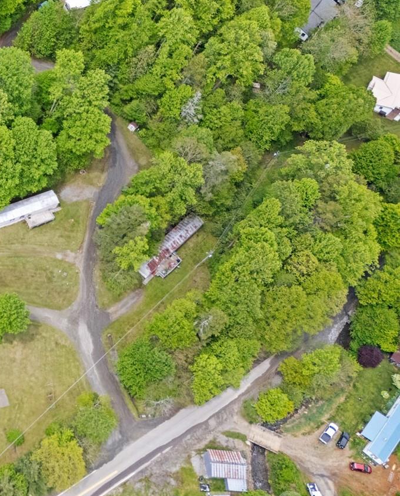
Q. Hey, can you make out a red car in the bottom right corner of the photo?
Yes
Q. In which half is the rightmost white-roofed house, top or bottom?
top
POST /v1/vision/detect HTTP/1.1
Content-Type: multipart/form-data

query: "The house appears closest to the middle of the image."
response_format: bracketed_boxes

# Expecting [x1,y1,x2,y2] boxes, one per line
[131,216,205,291]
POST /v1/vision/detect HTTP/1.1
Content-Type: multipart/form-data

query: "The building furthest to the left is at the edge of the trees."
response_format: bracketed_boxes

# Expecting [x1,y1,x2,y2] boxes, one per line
[0,191,59,232]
